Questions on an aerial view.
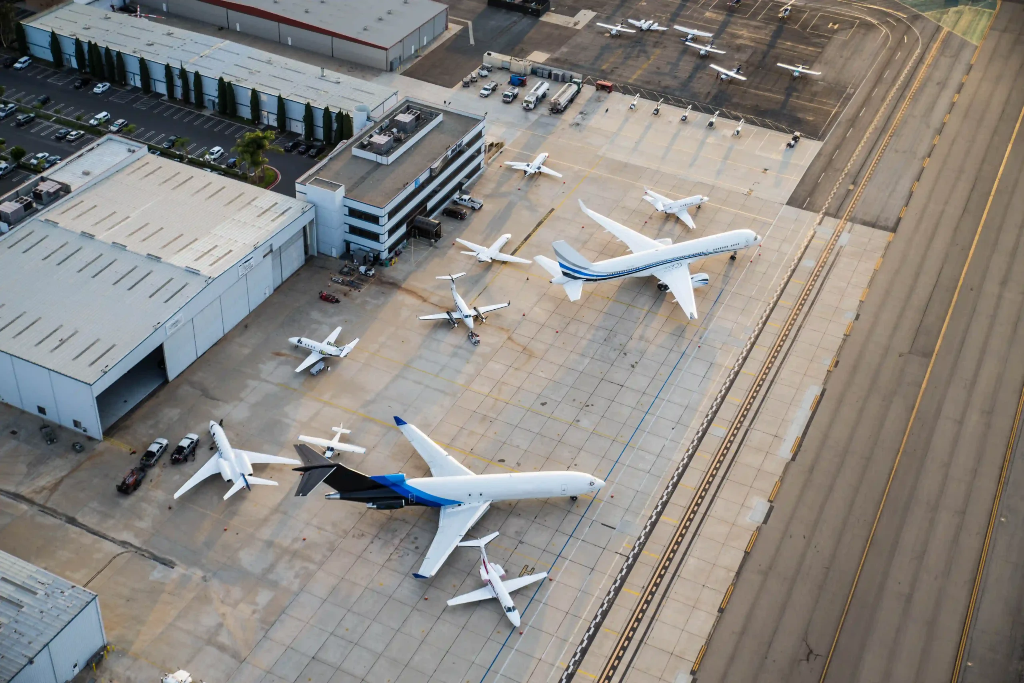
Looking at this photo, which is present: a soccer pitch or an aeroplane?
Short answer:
aeroplane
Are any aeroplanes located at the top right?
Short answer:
Yes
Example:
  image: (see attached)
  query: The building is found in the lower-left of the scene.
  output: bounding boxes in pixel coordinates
[0,550,107,683]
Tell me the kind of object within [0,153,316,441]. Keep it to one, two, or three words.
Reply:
hangar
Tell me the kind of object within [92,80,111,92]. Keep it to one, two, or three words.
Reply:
vehicle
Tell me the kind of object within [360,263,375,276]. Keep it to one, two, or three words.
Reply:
vehicle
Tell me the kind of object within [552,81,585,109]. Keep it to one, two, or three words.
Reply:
truck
